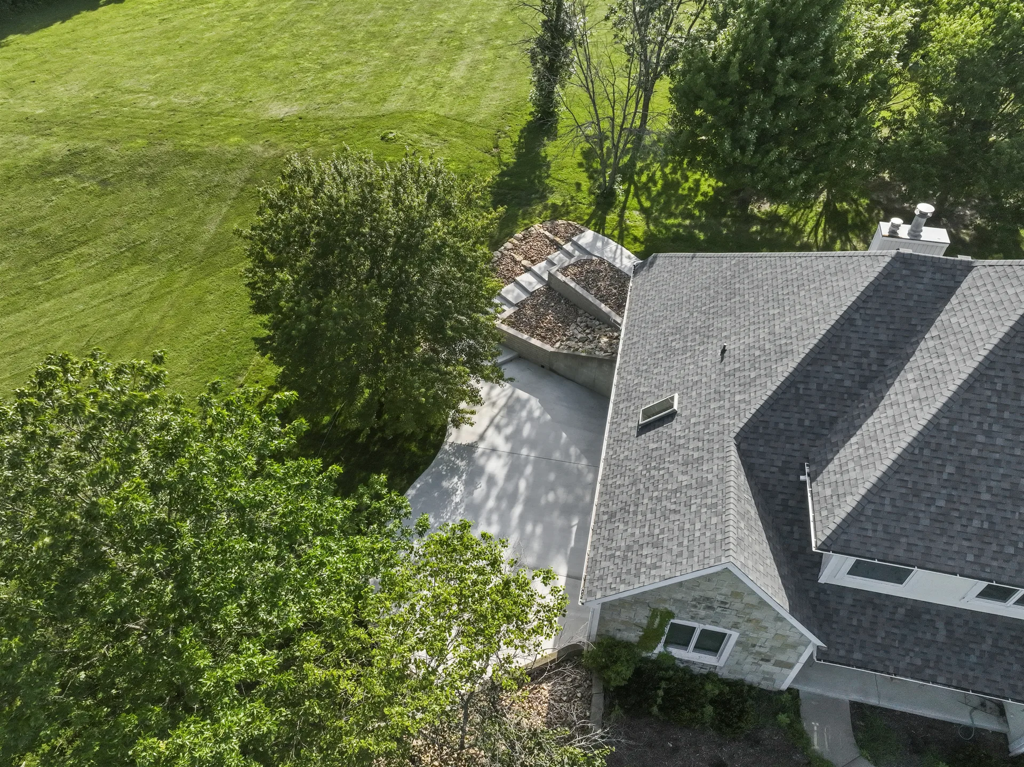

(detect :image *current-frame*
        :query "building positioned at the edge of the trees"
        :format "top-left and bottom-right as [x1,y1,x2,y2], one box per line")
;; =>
[576,203,1024,765]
